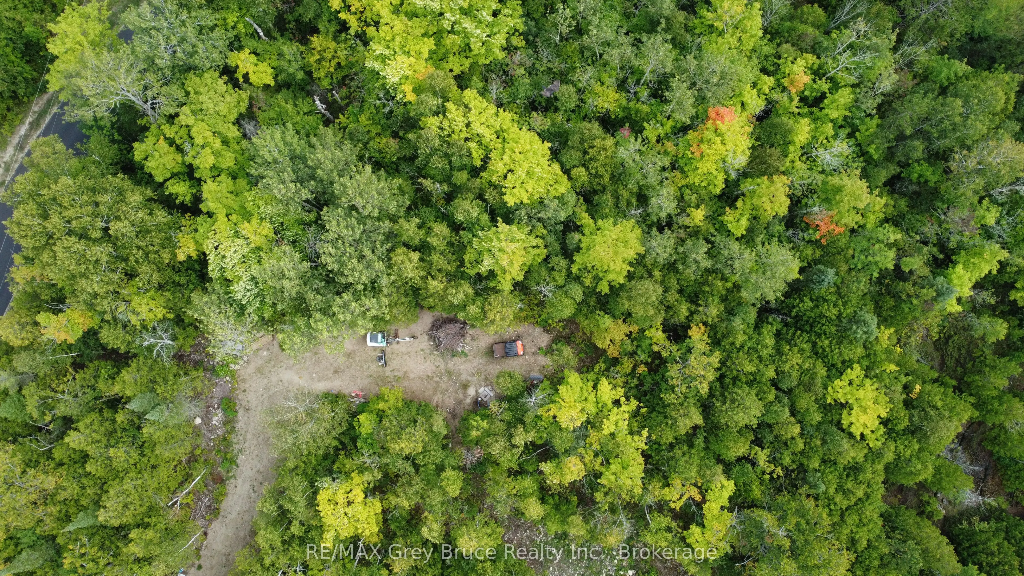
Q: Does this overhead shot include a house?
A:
No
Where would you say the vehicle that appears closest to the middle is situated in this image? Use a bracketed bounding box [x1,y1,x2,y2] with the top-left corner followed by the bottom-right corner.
[492,339,525,358]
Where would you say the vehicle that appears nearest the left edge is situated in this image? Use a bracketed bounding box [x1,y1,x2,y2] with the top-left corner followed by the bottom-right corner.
[368,329,414,346]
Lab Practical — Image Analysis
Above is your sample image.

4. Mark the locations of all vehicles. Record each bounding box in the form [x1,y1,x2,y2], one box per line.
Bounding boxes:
[492,339,525,358]
[368,329,414,346]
